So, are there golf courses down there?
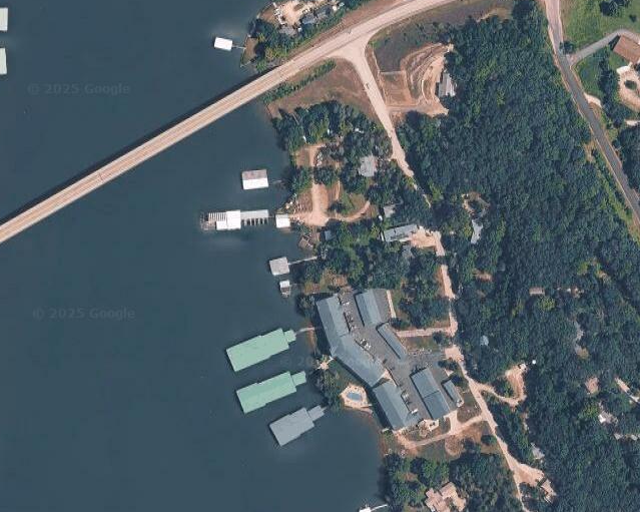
No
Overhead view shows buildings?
Yes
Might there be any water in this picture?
Yes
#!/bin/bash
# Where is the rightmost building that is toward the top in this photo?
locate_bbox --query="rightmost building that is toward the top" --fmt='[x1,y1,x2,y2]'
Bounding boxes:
[614,35,640,63]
